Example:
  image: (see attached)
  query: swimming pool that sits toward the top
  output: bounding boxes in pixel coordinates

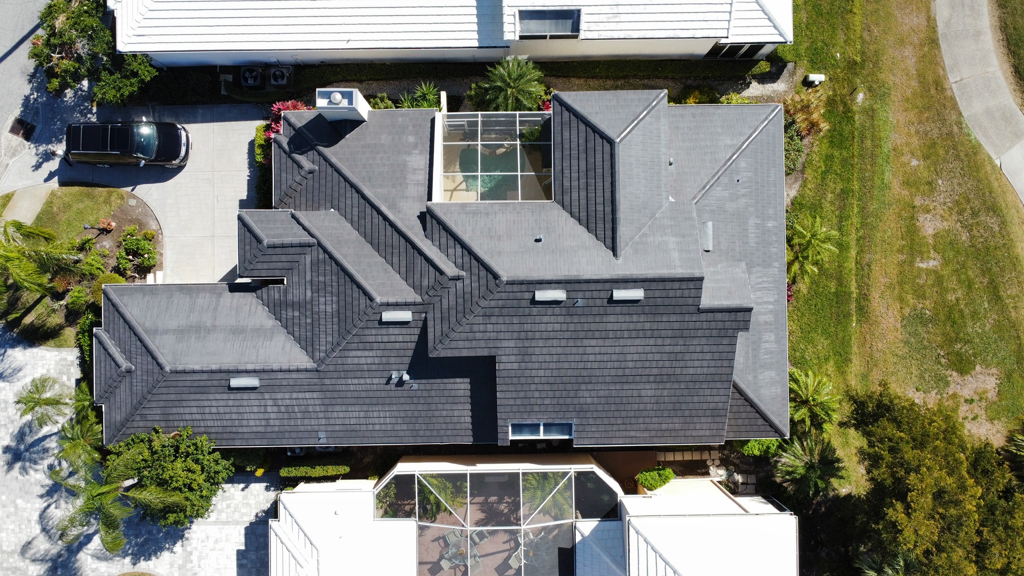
[459,128,526,201]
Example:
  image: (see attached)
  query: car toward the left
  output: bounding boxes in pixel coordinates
[62,114,191,170]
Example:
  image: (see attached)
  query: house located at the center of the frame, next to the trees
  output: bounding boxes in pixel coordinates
[90,88,791,449]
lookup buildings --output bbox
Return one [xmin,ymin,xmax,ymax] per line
[90,88,791,449]
[102,0,796,80]
[266,455,799,576]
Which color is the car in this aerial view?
black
